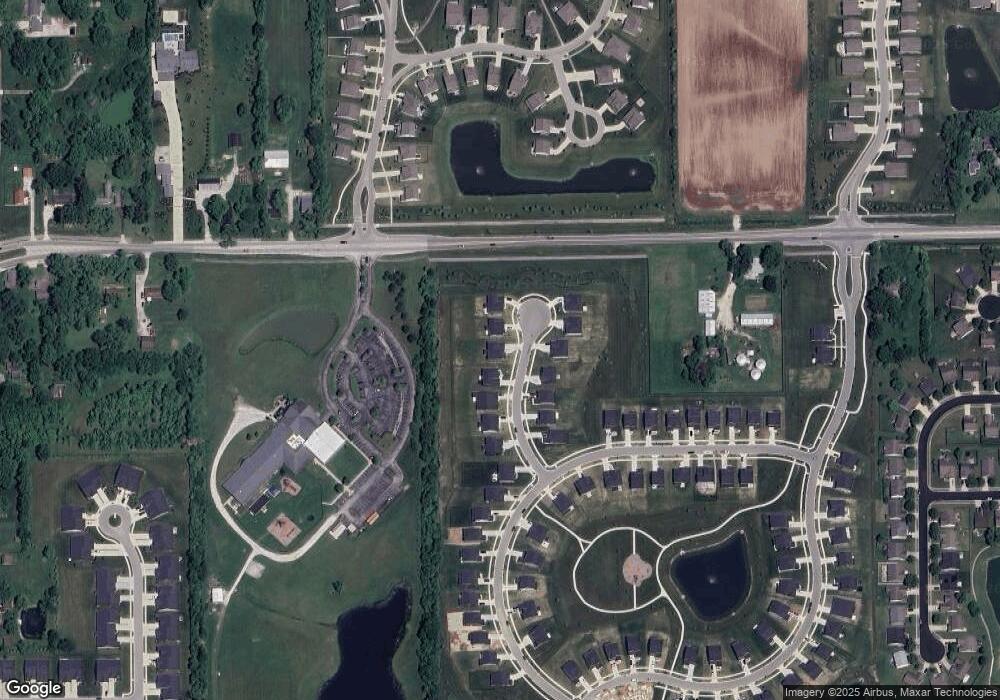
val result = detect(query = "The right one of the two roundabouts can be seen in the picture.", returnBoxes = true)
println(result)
[565,105,604,147]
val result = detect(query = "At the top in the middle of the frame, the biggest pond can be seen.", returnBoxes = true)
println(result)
[450,121,655,196]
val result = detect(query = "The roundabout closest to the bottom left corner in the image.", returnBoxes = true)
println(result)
[99,503,132,536]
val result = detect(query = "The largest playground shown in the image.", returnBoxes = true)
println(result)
[268,514,302,546]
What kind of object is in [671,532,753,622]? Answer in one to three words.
pond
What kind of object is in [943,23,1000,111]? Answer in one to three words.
pond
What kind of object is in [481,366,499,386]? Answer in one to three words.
house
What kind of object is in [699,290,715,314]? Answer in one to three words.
barn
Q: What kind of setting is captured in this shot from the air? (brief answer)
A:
residential area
